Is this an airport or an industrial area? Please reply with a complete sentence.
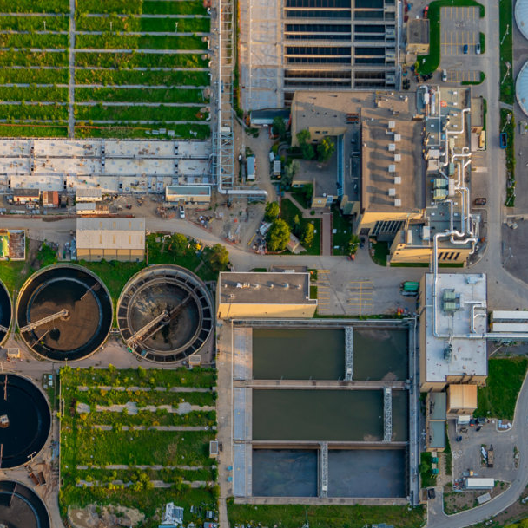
This image shows an industrial area.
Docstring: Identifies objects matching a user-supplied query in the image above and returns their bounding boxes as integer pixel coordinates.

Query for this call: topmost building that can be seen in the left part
[166,186,210,202]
